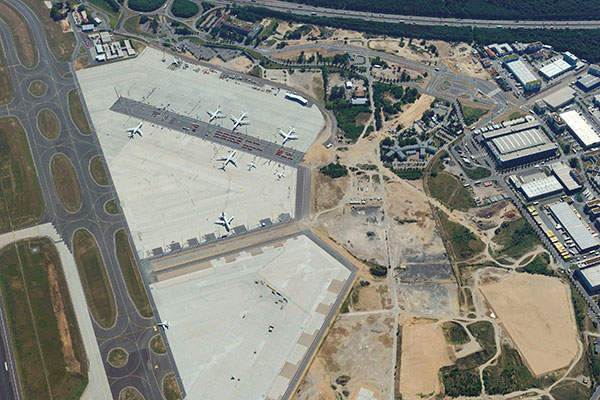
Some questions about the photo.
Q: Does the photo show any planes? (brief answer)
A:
Yes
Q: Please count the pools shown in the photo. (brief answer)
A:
0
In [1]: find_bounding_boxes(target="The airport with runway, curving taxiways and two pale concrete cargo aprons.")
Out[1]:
[0,0,358,400]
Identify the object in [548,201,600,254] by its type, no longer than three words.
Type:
building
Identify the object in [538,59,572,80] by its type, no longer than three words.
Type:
building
